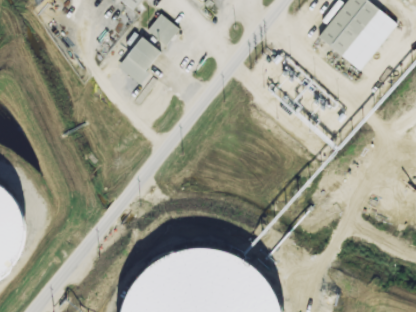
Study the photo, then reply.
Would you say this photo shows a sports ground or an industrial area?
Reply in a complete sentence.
This image shows an industrial area.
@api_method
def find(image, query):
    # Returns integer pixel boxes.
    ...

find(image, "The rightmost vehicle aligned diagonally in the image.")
[374,65,394,89]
